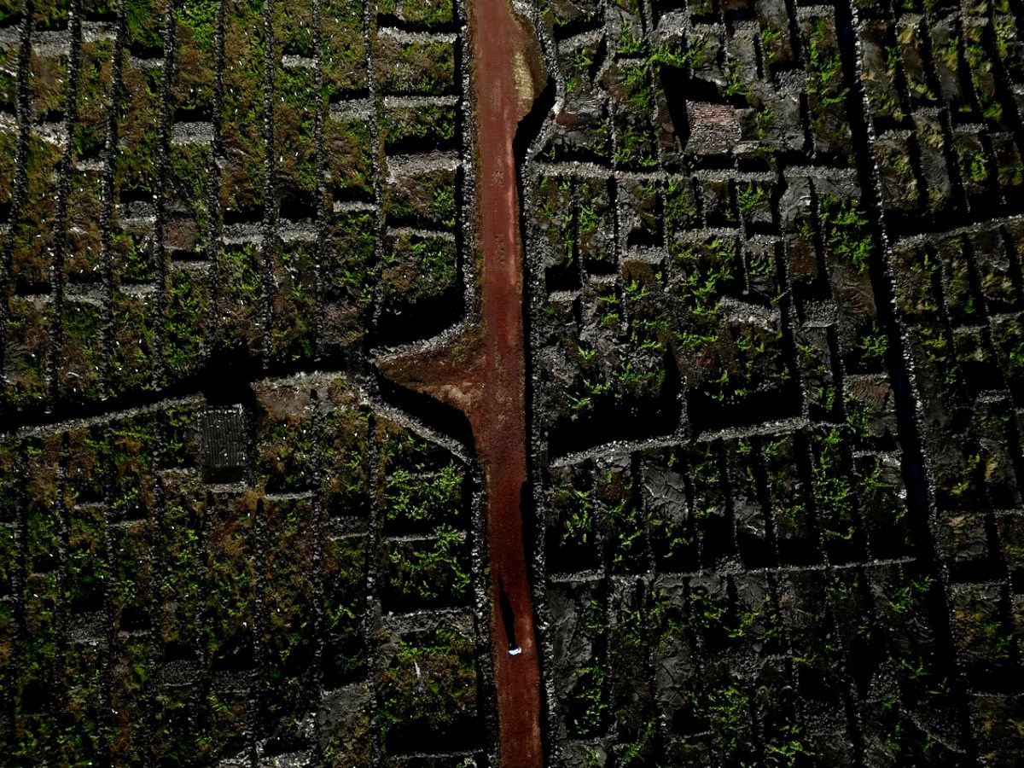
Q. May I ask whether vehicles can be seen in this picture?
No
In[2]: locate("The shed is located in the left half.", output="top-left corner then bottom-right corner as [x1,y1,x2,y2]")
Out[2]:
[198,401,264,492]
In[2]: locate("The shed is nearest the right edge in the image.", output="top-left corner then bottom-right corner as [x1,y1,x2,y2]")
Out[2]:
[670,98,759,158]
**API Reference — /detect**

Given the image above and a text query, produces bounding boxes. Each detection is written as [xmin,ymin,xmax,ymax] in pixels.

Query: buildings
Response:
[670,98,759,158]
[198,401,264,492]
